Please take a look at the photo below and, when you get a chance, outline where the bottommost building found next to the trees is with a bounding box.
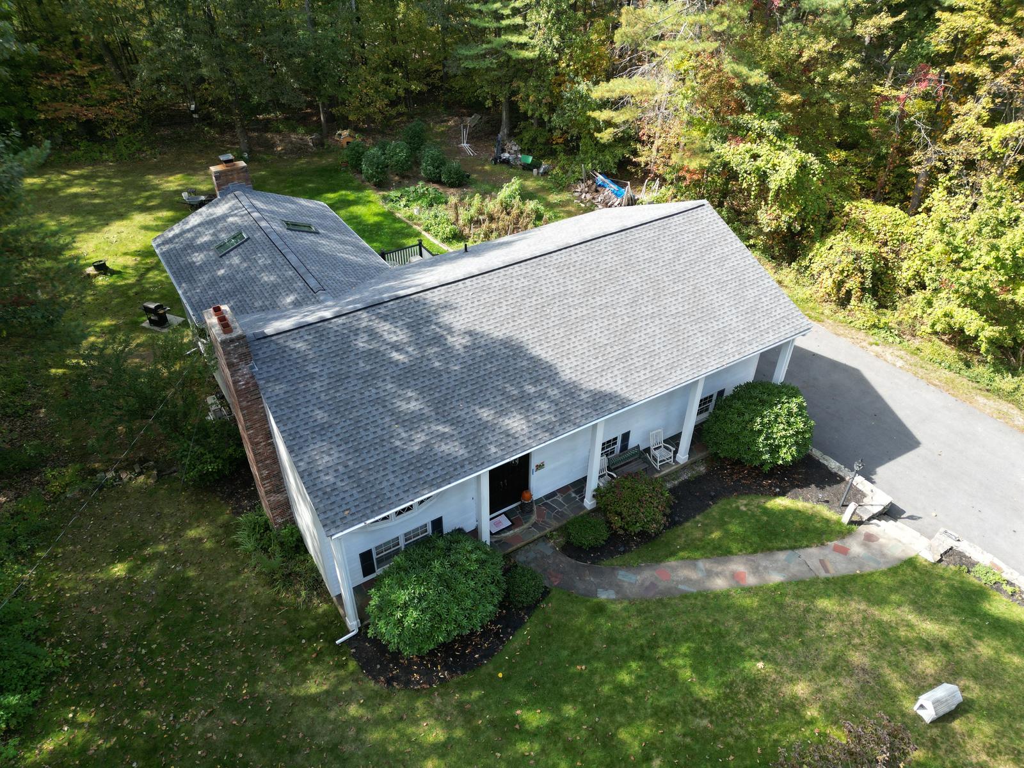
[152,149,814,656]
